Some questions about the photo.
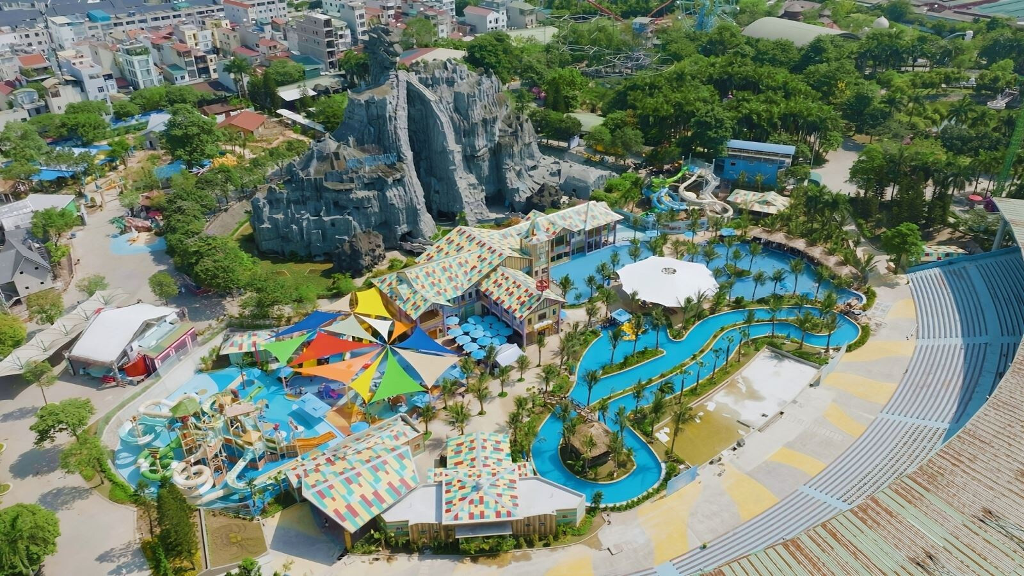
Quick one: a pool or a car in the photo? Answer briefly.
pool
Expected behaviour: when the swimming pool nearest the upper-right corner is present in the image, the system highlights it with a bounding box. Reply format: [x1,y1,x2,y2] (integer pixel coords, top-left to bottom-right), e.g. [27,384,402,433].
[684,240,863,305]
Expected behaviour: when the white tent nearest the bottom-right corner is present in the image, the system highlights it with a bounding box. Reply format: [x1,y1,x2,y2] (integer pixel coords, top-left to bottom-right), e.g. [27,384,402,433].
[616,256,719,321]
